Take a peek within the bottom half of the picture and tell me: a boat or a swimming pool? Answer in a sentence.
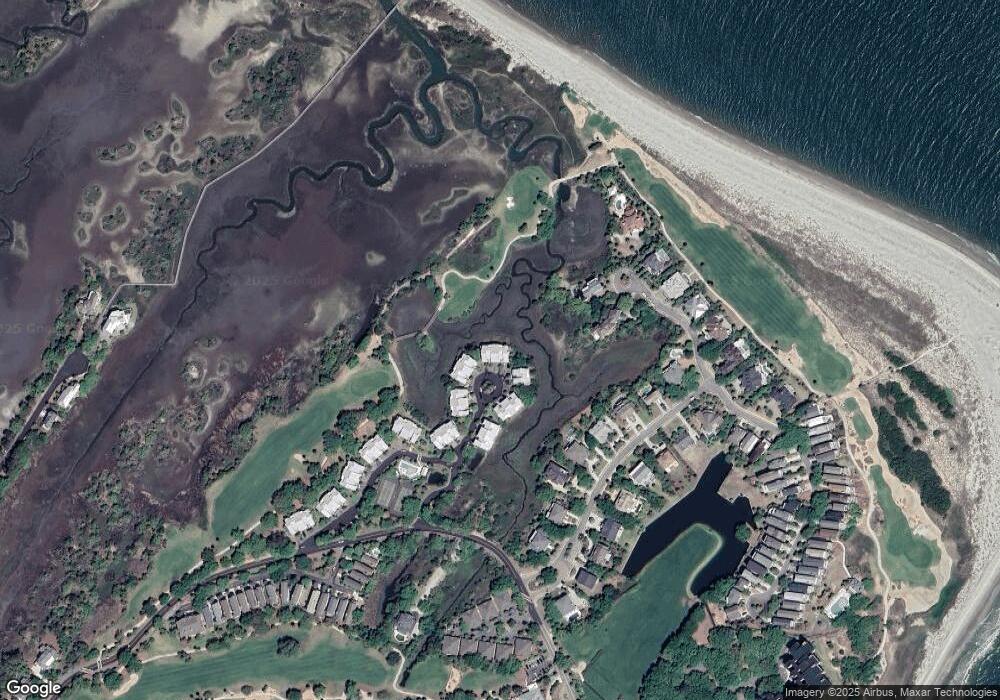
Looking within the bottom half of the picture, you will find a swimming pool.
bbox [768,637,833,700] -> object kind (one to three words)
building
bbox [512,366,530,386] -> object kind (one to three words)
house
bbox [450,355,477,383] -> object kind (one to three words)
house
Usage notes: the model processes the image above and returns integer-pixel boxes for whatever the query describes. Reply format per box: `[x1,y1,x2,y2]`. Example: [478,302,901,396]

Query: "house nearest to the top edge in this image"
[617,209,646,237]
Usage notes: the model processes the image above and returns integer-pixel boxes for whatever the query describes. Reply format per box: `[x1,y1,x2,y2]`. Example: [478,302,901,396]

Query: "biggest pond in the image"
[624,455,753,596]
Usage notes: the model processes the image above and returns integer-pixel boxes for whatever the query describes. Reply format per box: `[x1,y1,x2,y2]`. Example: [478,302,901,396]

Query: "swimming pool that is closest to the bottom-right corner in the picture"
[825,588,850,618]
